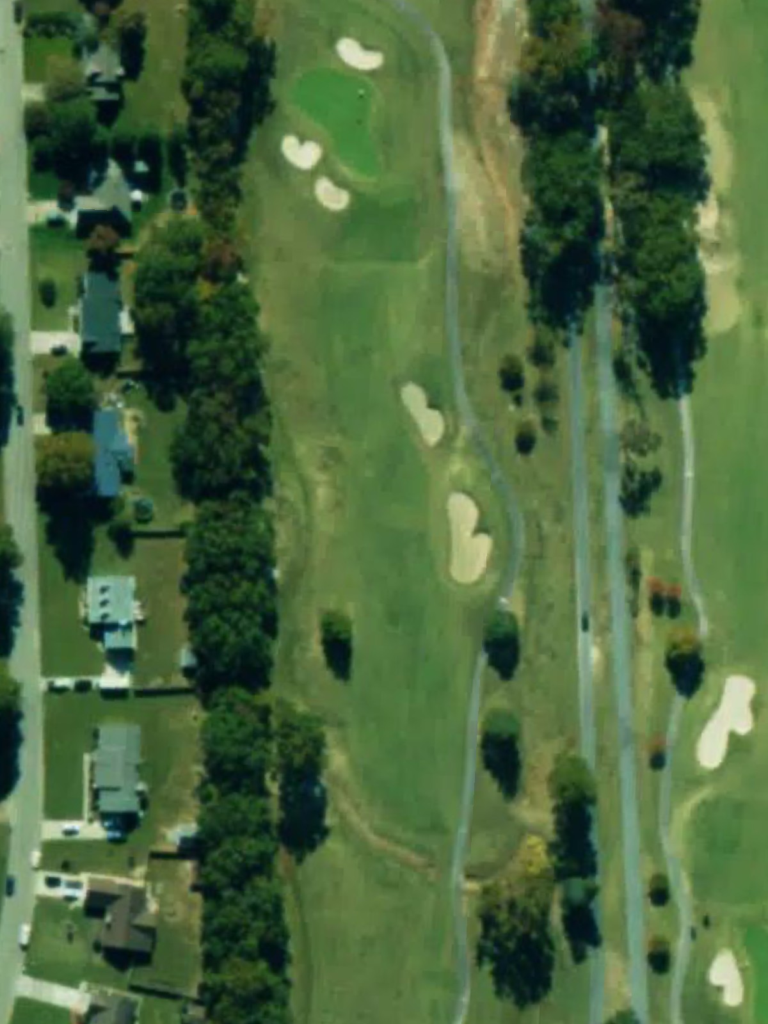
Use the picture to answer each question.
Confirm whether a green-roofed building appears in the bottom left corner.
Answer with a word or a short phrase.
Yes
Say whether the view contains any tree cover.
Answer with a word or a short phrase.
Yes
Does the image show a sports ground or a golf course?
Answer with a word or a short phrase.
golf course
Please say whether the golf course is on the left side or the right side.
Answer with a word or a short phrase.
right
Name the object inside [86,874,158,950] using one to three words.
house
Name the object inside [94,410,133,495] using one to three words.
house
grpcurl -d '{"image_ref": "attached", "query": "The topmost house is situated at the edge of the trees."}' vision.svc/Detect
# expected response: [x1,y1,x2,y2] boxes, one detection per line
[83,37,122,100]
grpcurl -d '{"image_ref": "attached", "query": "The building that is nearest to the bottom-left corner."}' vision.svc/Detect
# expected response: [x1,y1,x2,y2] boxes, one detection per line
[86,990,144,1024]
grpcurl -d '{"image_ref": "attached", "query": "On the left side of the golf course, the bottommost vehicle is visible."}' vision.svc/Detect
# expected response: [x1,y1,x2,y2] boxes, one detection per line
[18,923,30,948]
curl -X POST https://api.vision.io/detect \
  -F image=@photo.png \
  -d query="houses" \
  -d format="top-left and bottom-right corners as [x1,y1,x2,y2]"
[81,270,133,352]
[83,37,122,100]
[86,874,158,950]
[94,724,148,812]
[94,410,133,495]
[88,576,145,648]
[74,158,132,224]
[86,990,144,1024]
